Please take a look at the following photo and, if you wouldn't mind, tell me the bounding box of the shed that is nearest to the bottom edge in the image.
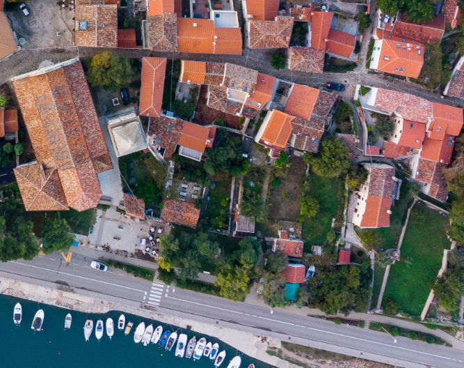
[284,262,306,284]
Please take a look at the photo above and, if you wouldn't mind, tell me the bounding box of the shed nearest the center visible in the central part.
[235,210,256,233]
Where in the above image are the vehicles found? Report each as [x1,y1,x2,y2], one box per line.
[122,89,129,106]
[328,83,348,90]
[91,261,108,272]
[20,2,30,16]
